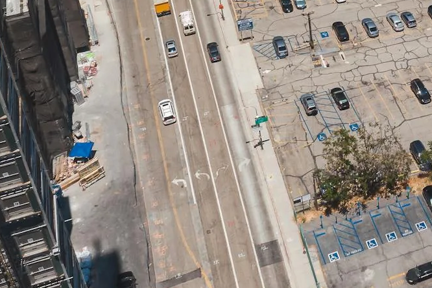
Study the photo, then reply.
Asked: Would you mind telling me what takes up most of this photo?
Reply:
paved ground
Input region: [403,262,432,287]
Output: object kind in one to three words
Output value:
car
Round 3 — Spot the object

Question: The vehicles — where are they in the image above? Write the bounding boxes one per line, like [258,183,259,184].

[420,183,432,215]
[331,20,350,44]
[384,12,405,35]
[277,0,295,14]
[403,262,432,287]
[271,36,289,60]
[359,17,380,40]
[408,140,432,171]
[164,38,180,62]
[399,10,418,31]
[425,4,432,19]
[206,40,223,65]
[154,0,171,20]
[330,86,350,113]
[409,83,432,109]
[299,90,320,119]
[179,5,196,37]
[293,0,308,11]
